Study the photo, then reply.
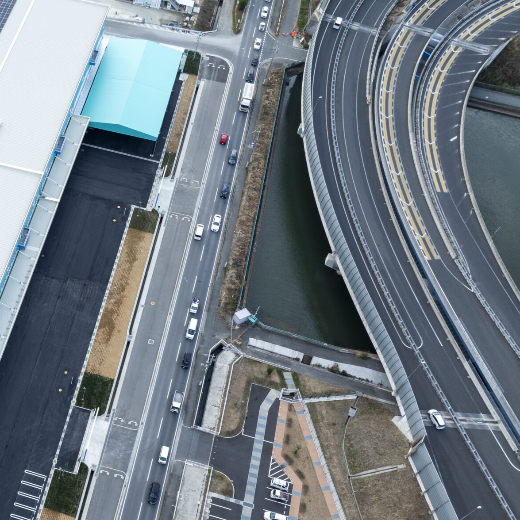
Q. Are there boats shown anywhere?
No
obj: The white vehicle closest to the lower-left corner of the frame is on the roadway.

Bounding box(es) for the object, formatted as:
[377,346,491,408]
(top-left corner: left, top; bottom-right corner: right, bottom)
[157,443,170,468]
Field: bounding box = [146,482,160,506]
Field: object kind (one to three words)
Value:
car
